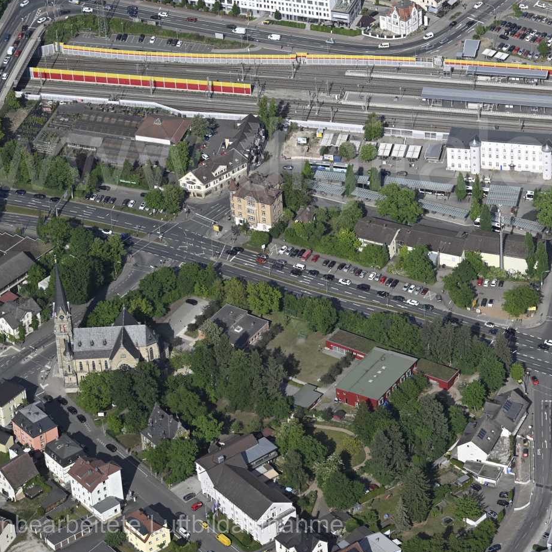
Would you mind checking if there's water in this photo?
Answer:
No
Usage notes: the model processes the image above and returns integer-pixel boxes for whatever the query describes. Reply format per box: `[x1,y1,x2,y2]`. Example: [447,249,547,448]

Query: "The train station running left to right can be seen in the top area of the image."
[446,126,552,178]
